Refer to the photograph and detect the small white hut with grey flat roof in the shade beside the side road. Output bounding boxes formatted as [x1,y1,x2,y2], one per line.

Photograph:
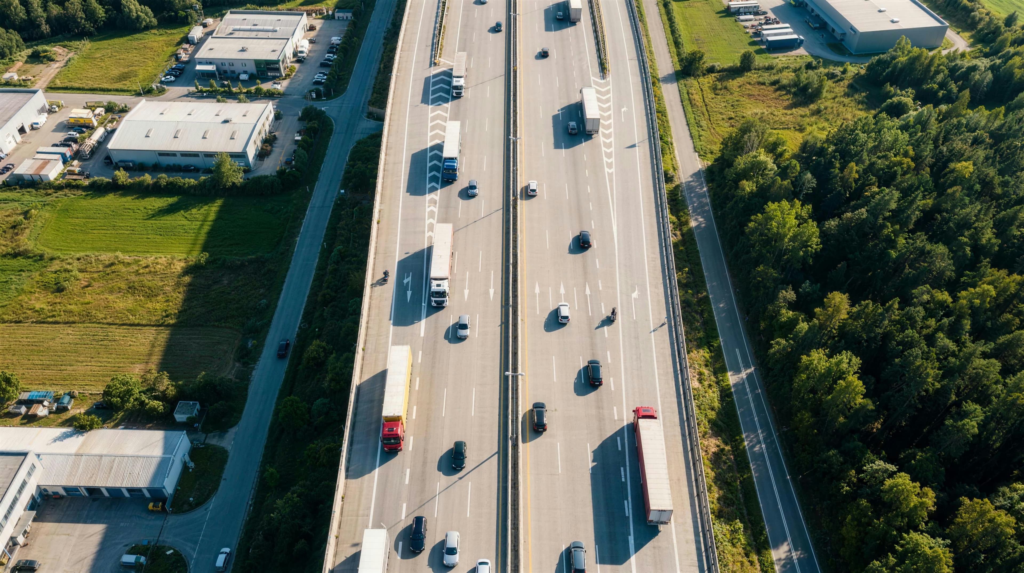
[173,400,202,424]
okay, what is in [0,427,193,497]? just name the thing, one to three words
building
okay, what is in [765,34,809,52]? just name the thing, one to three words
vehicle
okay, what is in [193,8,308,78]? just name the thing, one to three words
building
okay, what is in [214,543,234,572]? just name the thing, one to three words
car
